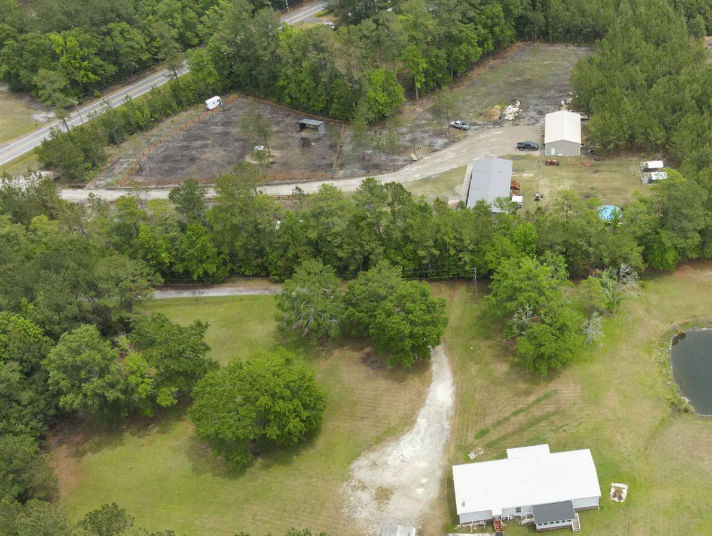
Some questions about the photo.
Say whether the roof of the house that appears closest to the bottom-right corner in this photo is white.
Yes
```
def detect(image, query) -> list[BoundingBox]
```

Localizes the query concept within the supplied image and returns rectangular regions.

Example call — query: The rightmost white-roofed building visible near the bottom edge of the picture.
[453,444,602,533]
